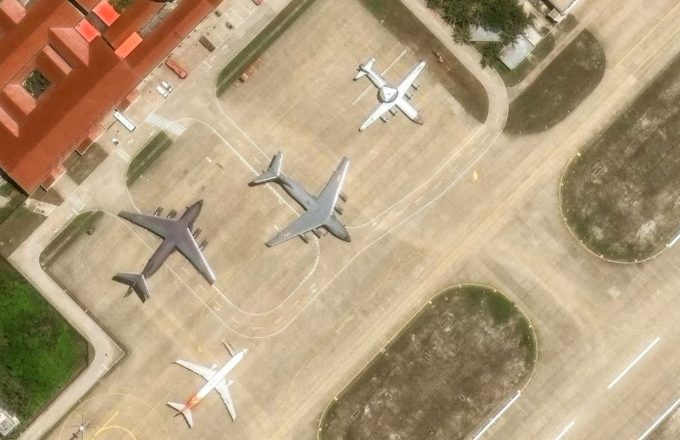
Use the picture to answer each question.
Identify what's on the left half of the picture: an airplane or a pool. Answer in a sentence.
It is an airplane that can be seen on the left half of the picture.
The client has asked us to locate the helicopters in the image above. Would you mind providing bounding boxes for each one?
[70,415,93,440]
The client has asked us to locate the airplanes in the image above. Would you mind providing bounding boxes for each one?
[357,61,426,133]
[116,201,214,301]
[170,349,246,425]
[251,151,351,247]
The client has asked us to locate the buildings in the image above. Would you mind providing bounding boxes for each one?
[0,407,22,437]
[0,0,143,195]
[498,34,535,71]
[469,26,503,42]
[548,0,577,16]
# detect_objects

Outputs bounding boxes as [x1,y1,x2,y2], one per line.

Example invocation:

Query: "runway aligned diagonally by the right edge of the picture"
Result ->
[469,232,680,440]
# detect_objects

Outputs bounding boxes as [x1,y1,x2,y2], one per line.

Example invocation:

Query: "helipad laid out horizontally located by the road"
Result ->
[59,394,169,440]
